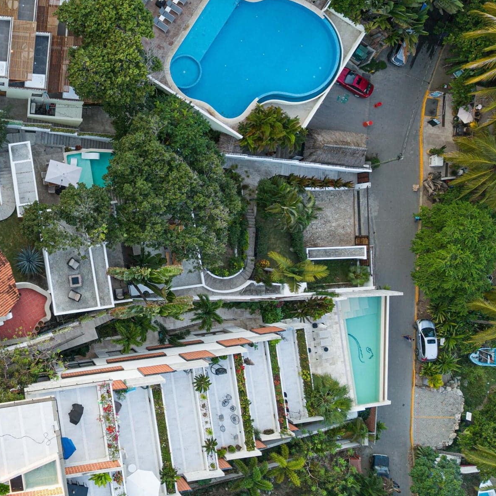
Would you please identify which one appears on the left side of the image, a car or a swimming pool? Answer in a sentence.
There is a swimming pool on the left side of the image.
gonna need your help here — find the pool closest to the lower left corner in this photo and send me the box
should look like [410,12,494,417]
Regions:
[22,458,61,491]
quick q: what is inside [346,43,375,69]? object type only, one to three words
building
